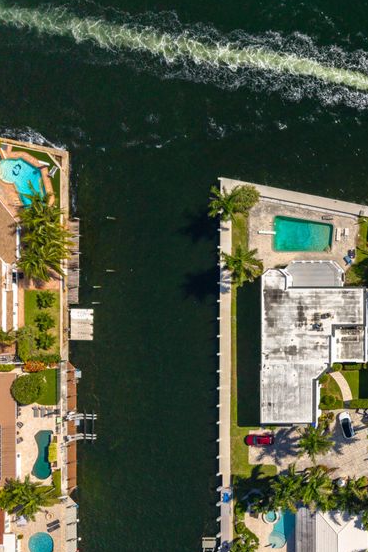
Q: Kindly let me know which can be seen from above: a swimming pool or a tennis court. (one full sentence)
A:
The image shows a swimming pool.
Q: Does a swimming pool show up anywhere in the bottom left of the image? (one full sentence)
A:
Yes, I can see a swimming pool in the bottom left of the image.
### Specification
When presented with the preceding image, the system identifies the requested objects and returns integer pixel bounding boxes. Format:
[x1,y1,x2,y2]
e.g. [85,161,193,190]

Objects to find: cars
[244,433,272,448]
[337,410,354,440]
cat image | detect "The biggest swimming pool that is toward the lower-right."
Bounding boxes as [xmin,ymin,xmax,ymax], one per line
[267,505,296,549]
